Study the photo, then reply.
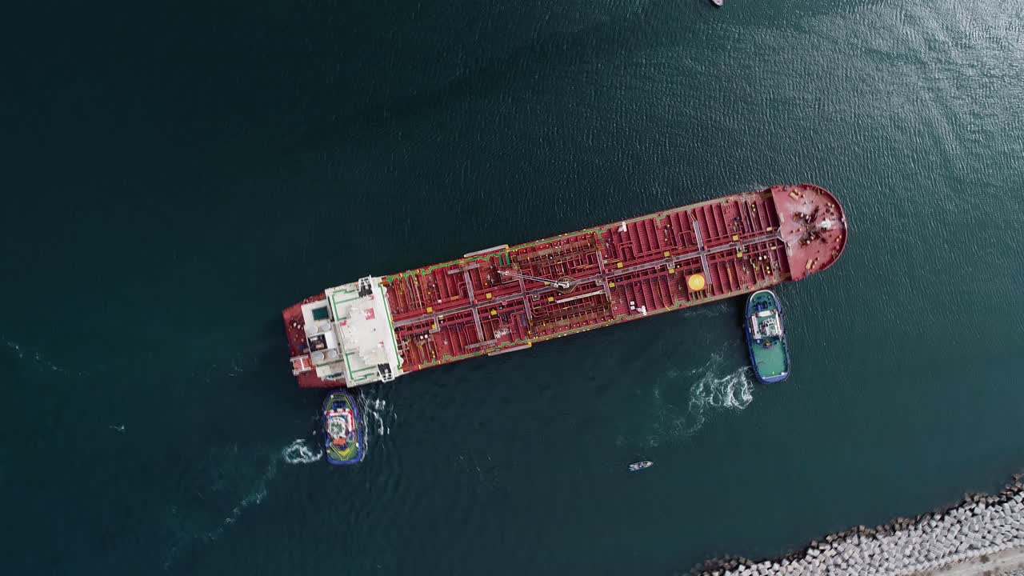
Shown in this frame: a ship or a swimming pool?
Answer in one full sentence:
I can see a ship in this picture.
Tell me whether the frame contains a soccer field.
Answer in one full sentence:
No, the scene contains no soccer field.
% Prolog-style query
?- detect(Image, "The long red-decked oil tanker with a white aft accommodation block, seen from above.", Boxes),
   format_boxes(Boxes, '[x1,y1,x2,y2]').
[284,184,846,390]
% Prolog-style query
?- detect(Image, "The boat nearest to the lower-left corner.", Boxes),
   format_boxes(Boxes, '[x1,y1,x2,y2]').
[322,388,366,466]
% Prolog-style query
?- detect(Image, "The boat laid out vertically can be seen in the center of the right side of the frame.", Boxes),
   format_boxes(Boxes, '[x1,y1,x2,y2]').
[744,291,791,384]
